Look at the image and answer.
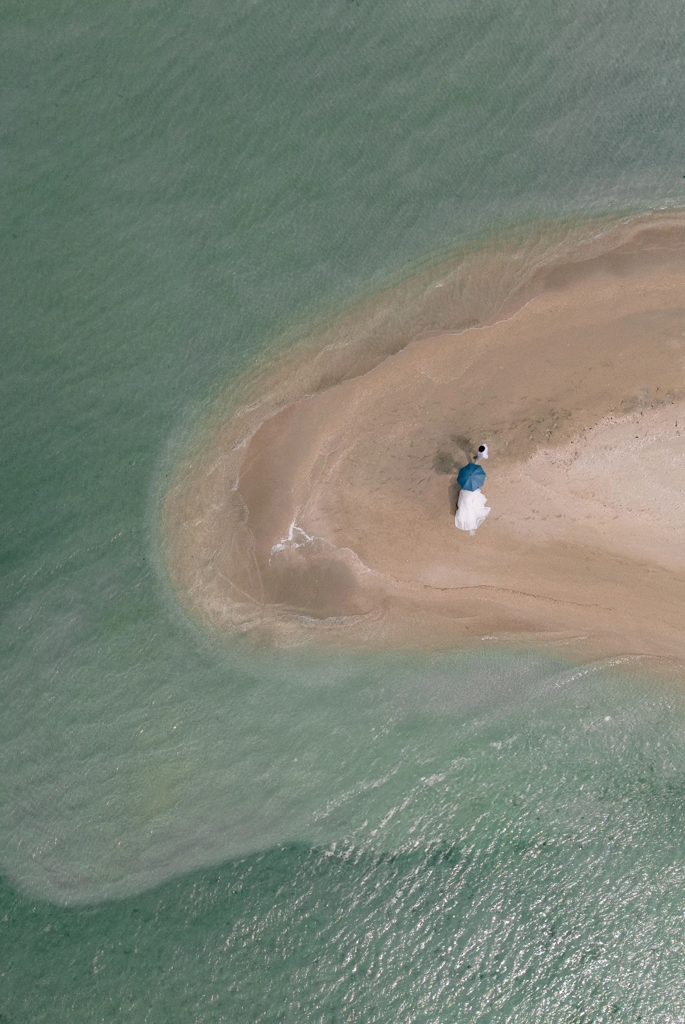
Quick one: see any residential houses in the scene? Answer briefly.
No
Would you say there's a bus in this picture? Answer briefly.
No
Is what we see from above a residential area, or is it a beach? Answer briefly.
beach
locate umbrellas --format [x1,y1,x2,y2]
[456,464,487,492]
